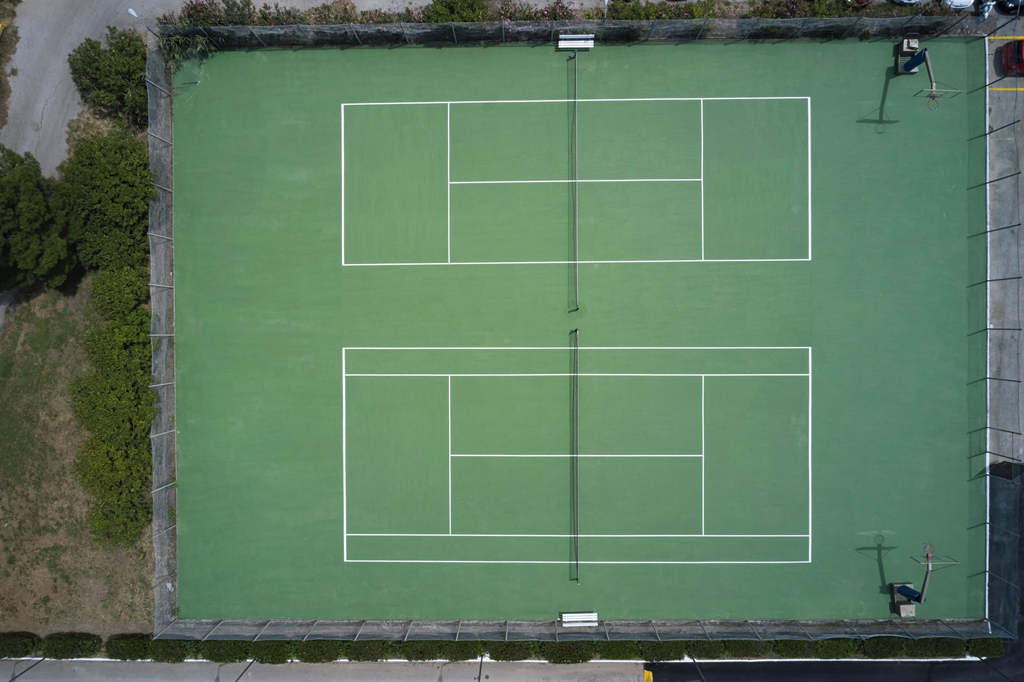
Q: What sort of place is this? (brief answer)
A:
sports ground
